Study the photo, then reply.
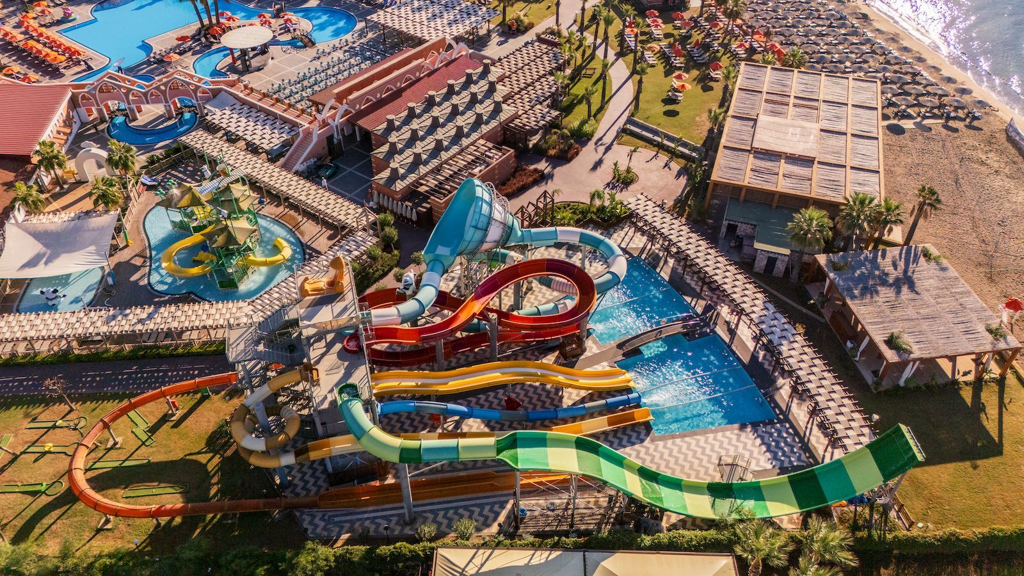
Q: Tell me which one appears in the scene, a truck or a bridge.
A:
bridge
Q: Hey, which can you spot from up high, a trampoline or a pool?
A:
pool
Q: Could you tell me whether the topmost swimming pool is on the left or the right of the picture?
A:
left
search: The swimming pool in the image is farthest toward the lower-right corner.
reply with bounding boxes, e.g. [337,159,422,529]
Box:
[592,259,774,434]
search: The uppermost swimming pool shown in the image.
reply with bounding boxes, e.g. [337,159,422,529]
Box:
[59,0,356,87]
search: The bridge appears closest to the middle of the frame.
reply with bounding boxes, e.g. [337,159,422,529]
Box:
[612,311,715,357]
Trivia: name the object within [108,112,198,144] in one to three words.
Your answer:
swimming pool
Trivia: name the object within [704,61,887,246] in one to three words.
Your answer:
building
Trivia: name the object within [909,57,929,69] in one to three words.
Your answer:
umbrella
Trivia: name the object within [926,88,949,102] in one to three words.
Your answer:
umbrella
